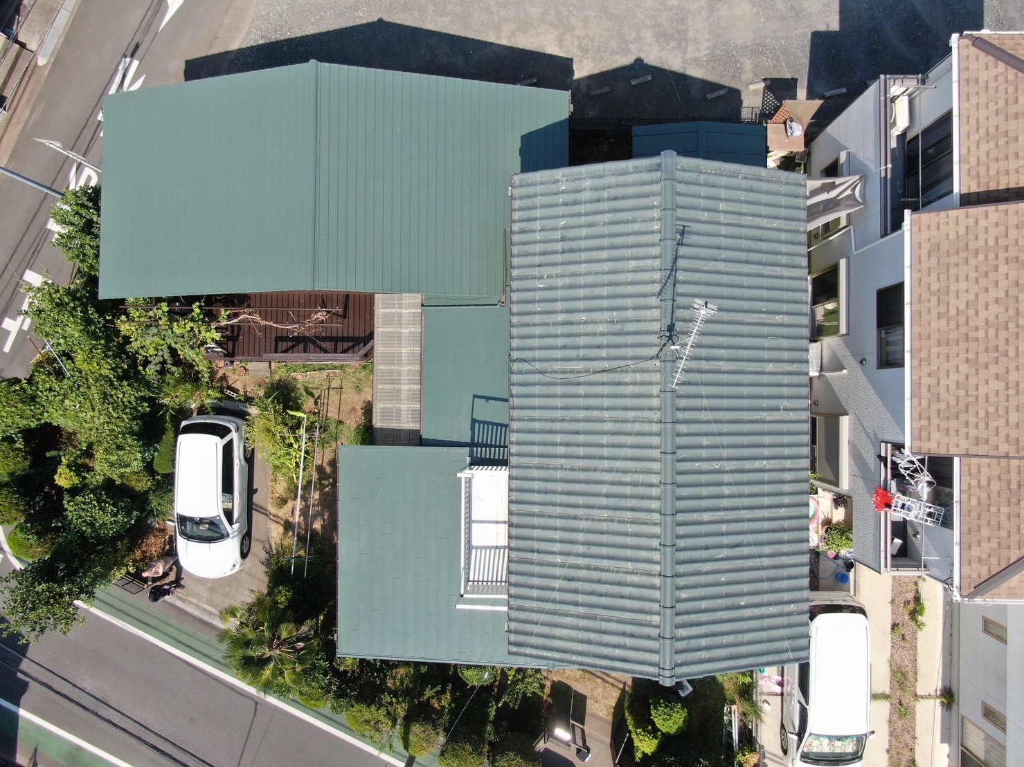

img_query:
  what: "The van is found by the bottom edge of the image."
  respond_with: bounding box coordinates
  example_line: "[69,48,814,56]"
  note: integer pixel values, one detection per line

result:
[776,589,877,767]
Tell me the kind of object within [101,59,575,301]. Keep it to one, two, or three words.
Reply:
building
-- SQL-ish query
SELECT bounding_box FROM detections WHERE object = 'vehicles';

[776,589,877,767]
[170,413,262,582]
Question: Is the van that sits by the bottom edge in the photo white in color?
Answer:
Yes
